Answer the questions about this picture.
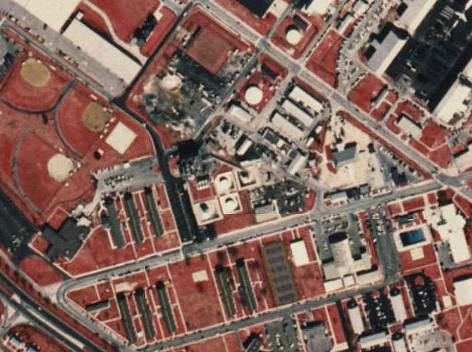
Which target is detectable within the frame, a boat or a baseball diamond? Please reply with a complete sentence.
It is a baseball diamond that can be seen here.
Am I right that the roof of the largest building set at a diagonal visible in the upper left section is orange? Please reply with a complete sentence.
No, the color of the roof of the largest building set at a diagonal visible in the upper left section is white.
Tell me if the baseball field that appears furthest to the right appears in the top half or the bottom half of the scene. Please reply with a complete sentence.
You can find the baseball field that appears furthest to the right in the top half.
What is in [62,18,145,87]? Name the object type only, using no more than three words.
building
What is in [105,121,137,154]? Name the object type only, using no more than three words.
sports court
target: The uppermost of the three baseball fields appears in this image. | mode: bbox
[0,54,77,115]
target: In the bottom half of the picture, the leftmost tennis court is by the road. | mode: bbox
[261,241,298,304]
